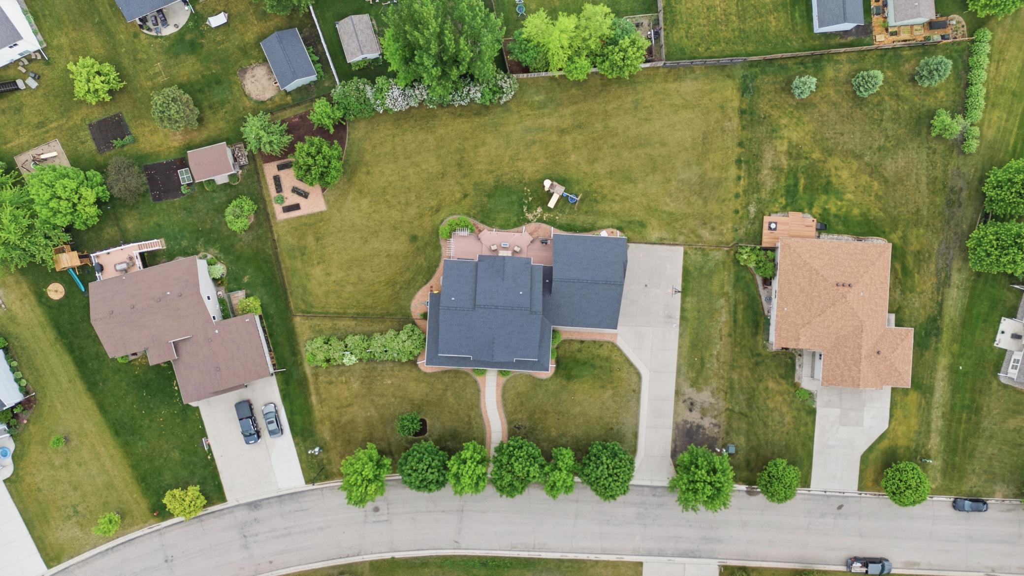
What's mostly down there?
grass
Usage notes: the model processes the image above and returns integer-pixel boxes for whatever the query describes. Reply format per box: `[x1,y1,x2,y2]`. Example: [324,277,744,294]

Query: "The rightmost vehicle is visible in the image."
[955,498,991,516]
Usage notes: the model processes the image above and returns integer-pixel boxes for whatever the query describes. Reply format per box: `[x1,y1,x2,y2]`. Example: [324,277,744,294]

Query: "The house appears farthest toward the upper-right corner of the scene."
[880,0,935,29]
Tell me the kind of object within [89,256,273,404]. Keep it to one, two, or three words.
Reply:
house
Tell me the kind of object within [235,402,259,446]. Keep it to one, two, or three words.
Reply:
truck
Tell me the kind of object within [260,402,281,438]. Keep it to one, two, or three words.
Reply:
car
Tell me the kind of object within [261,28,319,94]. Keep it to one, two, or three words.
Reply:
shed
